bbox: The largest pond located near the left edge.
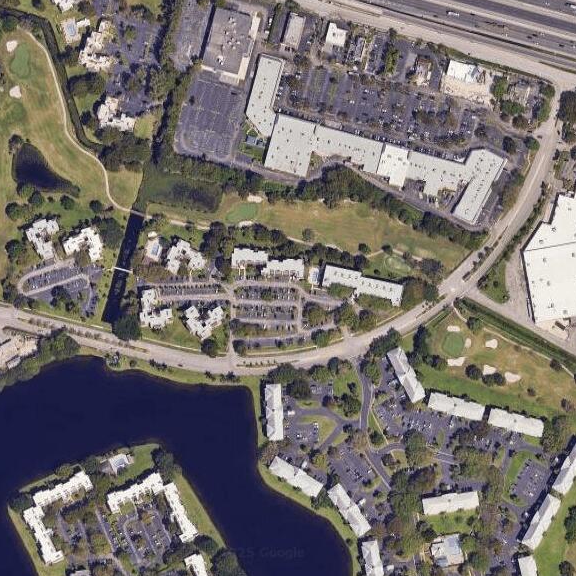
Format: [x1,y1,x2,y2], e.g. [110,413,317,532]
[13,143,77,193]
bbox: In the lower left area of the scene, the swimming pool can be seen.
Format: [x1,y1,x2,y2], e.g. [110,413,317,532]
[103,454,128,473]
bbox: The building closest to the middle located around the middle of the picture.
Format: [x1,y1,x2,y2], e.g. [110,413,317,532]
[261,258,306,278]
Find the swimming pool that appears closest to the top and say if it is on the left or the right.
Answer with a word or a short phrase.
left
